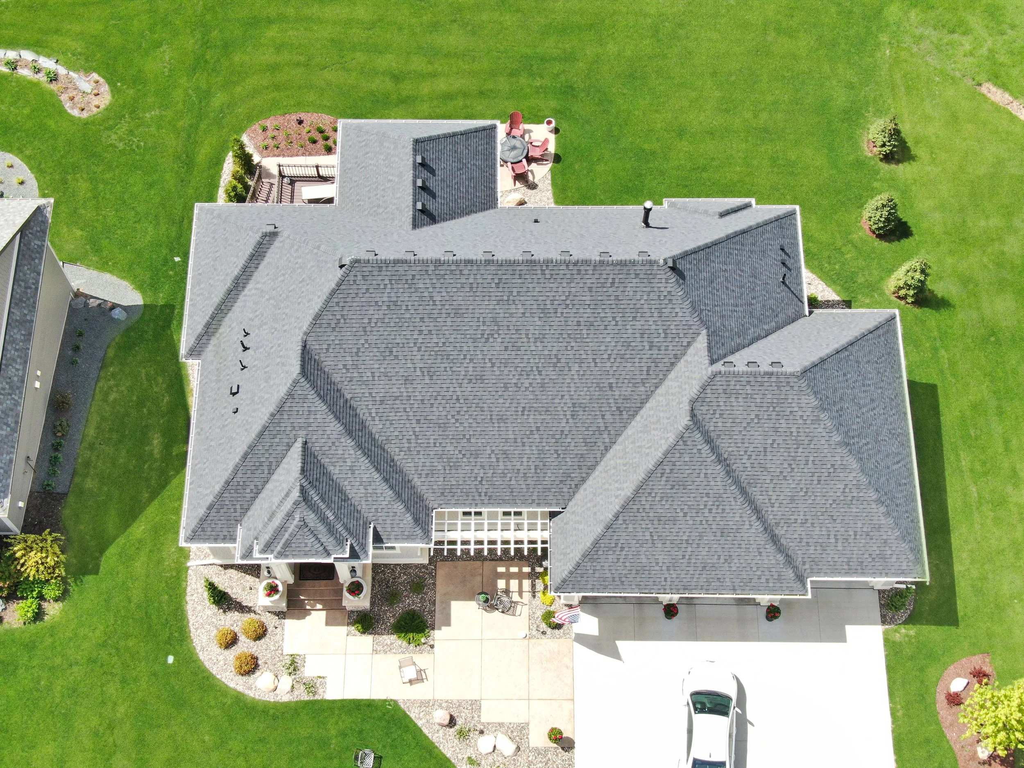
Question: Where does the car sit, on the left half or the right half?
right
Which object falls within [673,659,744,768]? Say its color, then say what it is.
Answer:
white car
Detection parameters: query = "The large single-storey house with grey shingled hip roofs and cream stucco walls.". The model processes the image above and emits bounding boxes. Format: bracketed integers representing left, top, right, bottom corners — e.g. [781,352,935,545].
[180,118,931,611]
